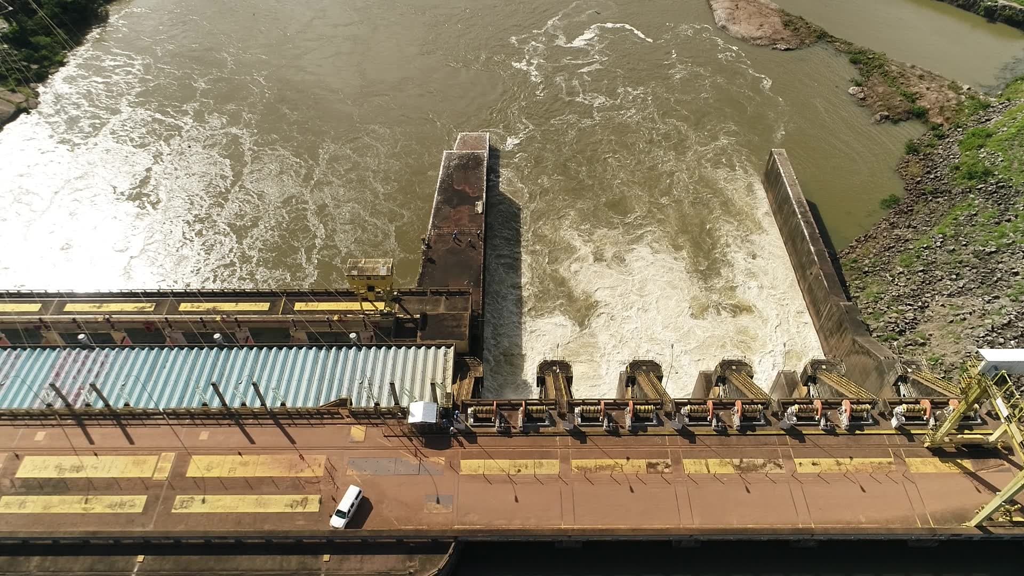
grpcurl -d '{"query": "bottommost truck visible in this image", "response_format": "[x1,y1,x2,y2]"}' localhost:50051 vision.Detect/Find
[334,481,367,530]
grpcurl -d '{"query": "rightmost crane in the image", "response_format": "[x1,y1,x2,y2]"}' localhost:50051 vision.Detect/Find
[929,350,1024,528]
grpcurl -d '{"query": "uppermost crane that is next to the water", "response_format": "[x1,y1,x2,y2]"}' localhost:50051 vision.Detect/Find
[346,258,402,320]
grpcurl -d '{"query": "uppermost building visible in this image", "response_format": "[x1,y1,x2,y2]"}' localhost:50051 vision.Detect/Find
[0,338,457,407]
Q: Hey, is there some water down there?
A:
Yes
